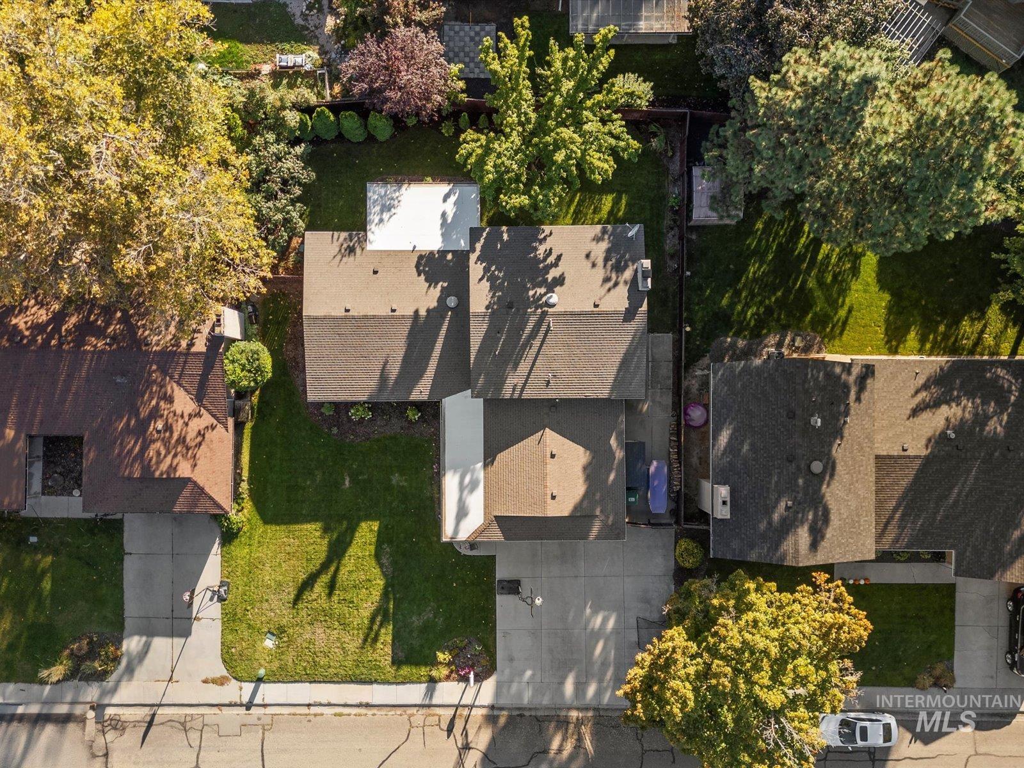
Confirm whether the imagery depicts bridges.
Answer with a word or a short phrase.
No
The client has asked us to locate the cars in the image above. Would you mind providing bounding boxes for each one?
[806,707,897,754]
[1007,586,1024,680]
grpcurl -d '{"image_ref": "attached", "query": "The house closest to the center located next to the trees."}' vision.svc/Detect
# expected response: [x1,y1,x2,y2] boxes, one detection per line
[300,182,652,544]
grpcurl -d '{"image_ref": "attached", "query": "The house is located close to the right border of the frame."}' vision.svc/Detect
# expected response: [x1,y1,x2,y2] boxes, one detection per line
[696,357,1024,580]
